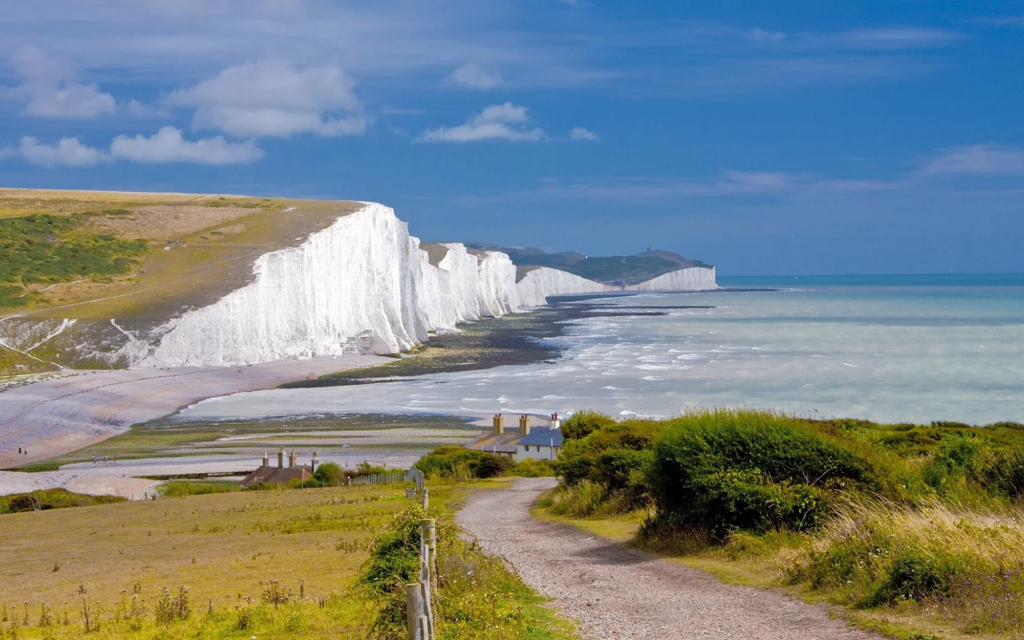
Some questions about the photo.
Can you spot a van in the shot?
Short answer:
No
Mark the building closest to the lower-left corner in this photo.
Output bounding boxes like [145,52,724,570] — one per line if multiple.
[243,448,322,493]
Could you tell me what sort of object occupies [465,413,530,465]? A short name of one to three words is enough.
house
